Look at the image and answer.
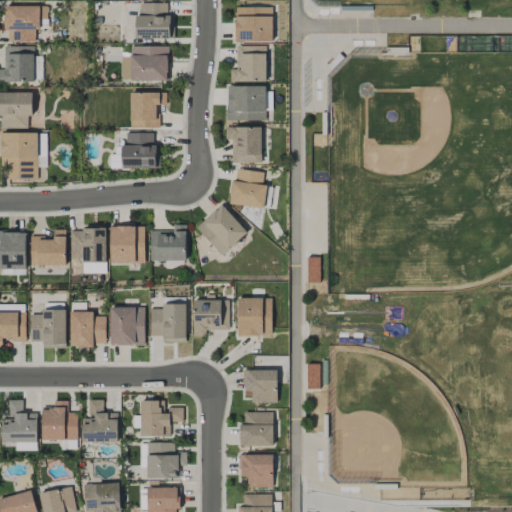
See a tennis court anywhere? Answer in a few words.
No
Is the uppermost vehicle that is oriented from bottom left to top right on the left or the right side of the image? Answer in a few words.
right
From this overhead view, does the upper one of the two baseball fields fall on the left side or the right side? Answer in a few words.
right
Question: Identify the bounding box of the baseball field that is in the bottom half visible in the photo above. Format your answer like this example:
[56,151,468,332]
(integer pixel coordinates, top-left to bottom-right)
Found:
[330,346,467,484]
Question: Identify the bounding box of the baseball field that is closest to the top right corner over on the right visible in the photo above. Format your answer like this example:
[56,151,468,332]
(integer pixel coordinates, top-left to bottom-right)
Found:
[329,52,512,292]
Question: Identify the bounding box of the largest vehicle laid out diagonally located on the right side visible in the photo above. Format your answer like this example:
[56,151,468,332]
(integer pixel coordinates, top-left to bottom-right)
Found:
[328,50,348,71]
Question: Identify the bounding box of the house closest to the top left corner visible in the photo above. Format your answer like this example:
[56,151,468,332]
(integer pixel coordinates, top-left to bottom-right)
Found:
[4,5,49,42]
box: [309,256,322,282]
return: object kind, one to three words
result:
building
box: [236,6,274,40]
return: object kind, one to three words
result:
house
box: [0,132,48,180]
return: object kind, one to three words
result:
house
